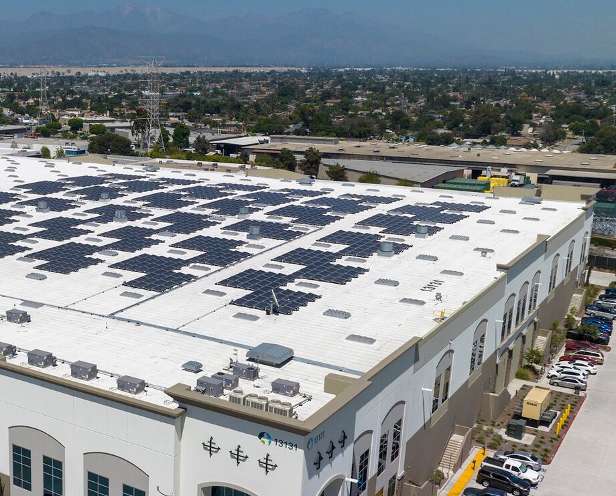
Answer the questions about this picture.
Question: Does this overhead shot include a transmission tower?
Yes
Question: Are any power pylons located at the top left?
Yes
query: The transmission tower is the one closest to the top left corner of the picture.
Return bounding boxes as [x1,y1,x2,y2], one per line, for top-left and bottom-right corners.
[33,57,54,117]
